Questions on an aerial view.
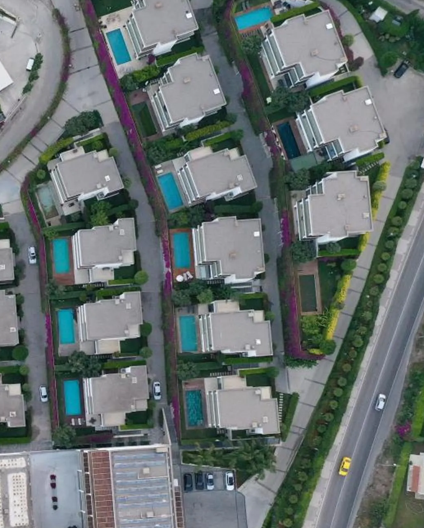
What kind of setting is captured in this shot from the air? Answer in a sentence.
It's a residential area.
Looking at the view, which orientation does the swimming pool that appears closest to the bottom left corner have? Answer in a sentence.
The swimming pool that appears closest to the bottom left corner runs up and down in the image.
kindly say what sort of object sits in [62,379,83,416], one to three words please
swimming pool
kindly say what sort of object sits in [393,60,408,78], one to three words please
car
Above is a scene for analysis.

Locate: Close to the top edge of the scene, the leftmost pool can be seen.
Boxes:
[104,26,133,65]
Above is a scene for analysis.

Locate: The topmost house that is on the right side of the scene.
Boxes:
[259,10,347,88]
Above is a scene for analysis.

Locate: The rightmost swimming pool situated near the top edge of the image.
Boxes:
[233,5,274,31]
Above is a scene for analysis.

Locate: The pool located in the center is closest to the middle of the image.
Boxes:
[173,232,192,268]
